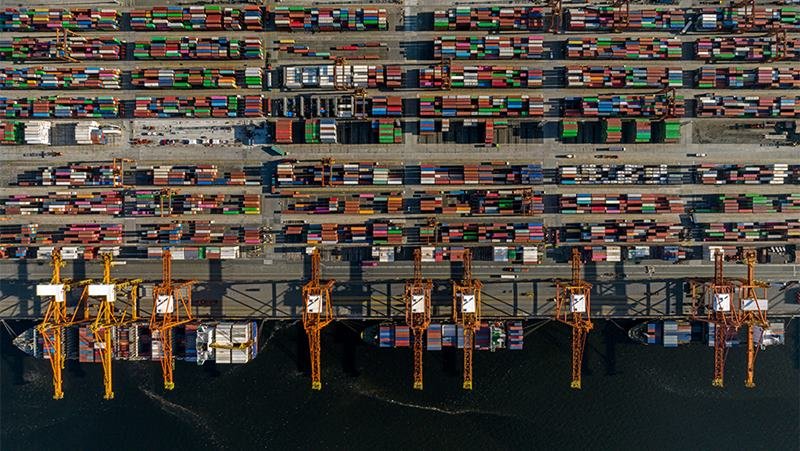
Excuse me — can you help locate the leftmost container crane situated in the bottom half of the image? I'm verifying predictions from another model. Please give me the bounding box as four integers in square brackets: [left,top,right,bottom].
[36,249,99,402]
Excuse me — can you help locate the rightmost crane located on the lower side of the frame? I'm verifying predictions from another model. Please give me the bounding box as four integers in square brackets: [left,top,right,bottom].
[708,246,771,392]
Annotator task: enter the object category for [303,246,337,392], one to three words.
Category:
container crane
